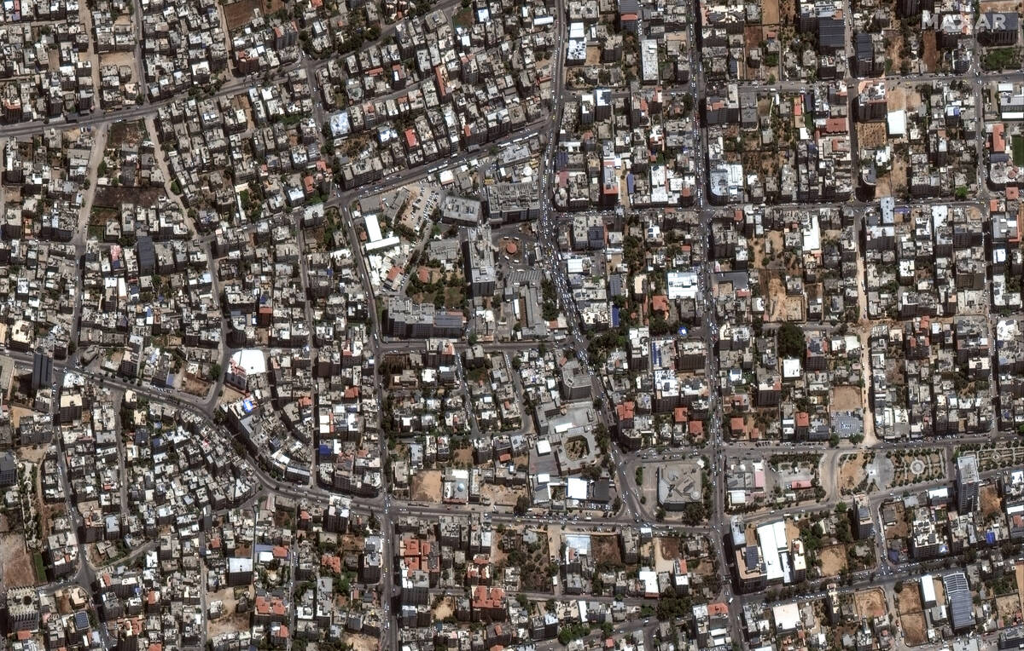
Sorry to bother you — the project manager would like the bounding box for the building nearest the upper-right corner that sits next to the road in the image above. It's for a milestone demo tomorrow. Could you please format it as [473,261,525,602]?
[981,11,1019,45]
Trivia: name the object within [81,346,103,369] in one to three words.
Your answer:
house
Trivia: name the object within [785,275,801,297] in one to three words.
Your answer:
house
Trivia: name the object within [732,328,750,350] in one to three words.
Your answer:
building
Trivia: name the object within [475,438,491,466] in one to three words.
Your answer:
building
